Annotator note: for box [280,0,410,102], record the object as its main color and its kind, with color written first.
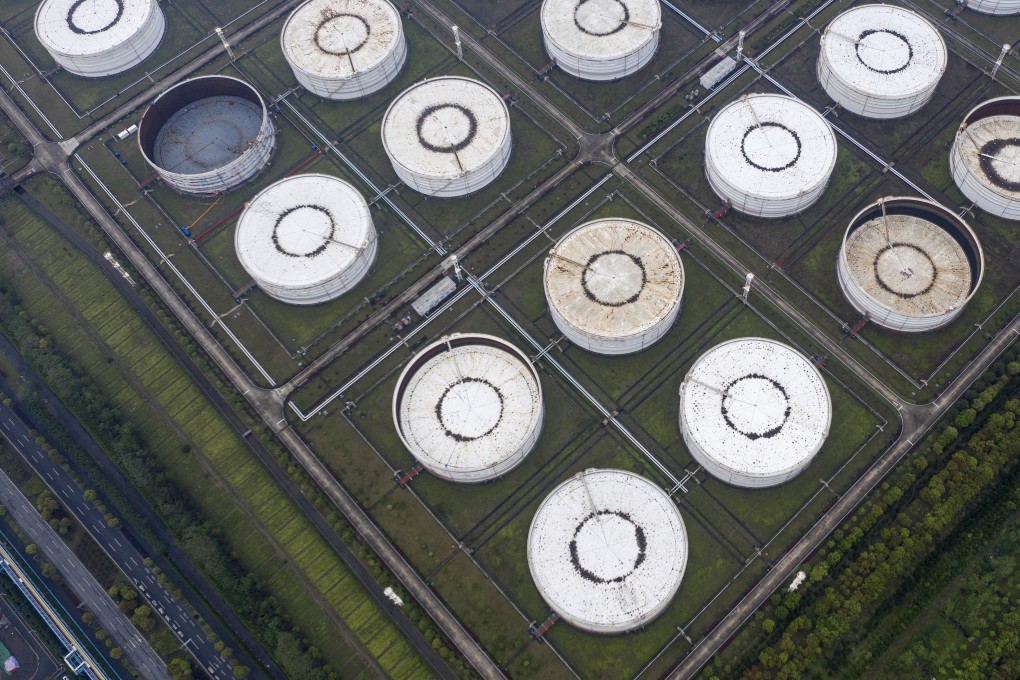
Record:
white storage tank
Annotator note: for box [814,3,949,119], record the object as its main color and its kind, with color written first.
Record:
white storage tank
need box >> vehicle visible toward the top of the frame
[181,194,224,235]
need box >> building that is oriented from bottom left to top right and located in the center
[411,276,456,316]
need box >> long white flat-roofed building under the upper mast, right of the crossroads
[699,56,736,89]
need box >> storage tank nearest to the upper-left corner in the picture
[33,0,168,78]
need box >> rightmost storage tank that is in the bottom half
[675,336,833,492]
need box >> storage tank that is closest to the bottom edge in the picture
[526,468,690,640]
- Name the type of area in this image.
industrial area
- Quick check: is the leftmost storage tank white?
Yes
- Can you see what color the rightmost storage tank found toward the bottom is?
white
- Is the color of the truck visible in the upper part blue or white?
blue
